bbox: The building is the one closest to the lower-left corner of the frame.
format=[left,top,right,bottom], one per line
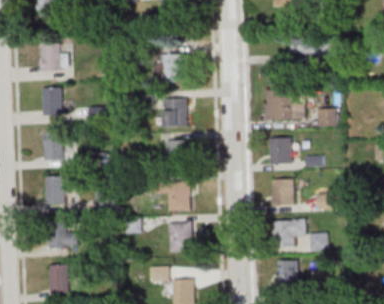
[48,266,68,293]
